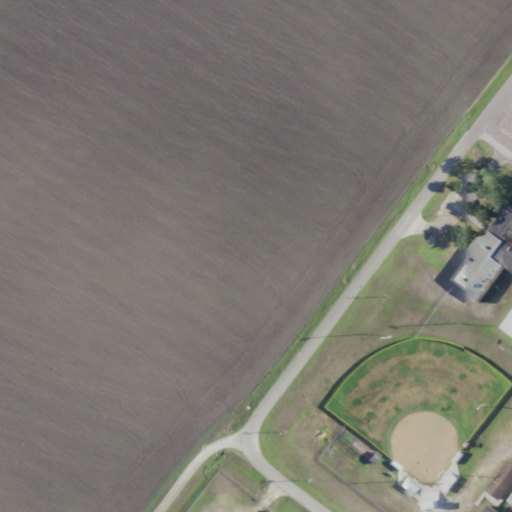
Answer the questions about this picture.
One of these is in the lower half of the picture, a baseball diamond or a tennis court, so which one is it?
baseball diamond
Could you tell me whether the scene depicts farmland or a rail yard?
farmland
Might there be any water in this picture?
No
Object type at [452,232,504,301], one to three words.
building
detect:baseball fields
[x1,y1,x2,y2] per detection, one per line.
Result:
[326,338,511,484]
